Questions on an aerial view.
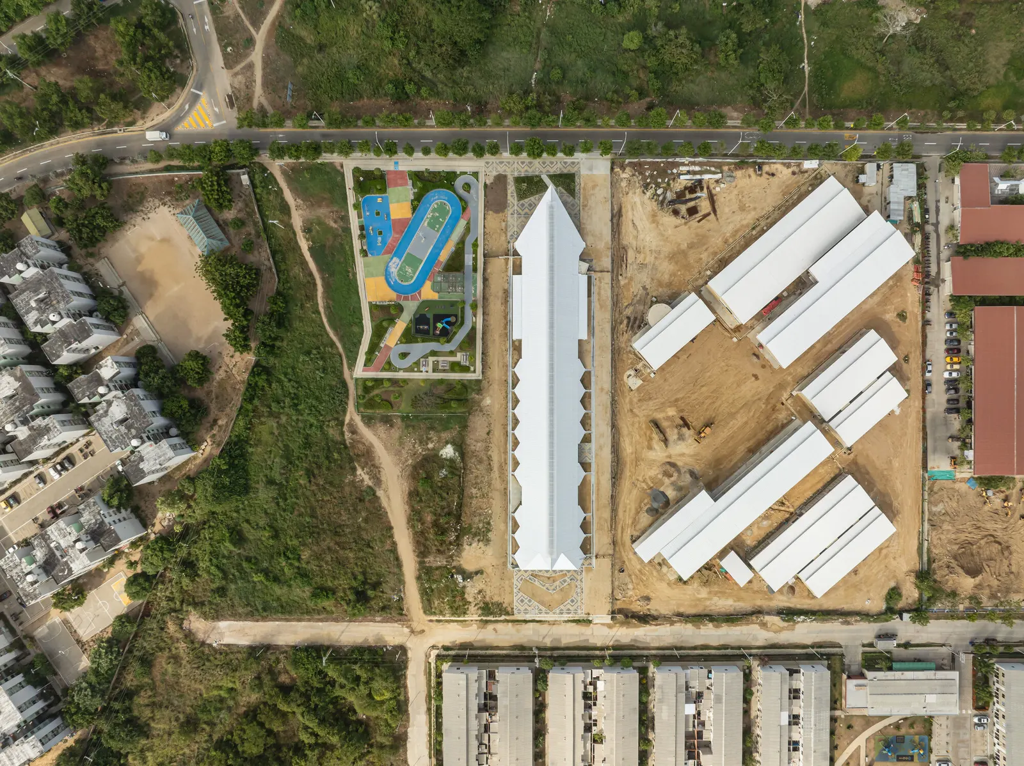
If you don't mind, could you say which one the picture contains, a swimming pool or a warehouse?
warehouse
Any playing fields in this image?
Yes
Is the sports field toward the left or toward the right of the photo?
left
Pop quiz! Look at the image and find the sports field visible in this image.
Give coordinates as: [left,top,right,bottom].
[120,208,231,365]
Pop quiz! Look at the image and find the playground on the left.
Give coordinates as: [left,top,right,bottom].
[362,195,392,256]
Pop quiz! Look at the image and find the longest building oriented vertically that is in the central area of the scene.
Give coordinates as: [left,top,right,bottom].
[513,186,588,570]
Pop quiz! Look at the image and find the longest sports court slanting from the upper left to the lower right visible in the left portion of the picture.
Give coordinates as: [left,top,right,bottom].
[34,618,89,685]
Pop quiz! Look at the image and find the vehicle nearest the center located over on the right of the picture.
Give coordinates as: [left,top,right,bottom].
[694,422,717,445]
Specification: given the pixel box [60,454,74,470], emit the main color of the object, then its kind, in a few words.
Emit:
gray car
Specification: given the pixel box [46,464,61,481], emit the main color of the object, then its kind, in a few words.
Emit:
white car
